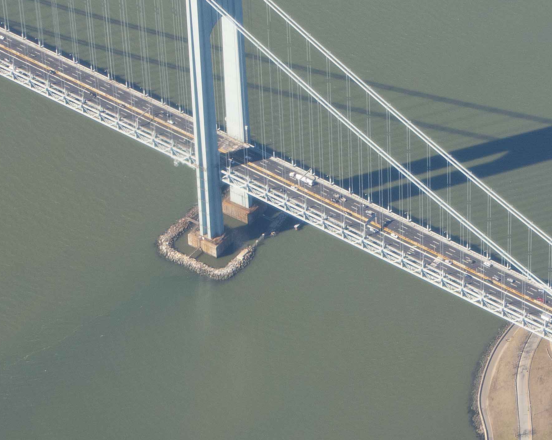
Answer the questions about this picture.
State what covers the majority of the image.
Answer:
water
